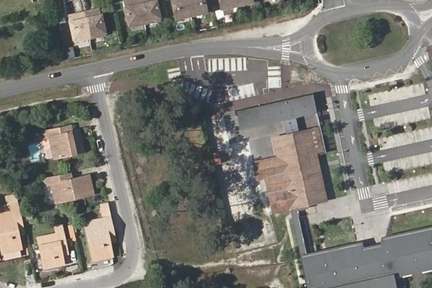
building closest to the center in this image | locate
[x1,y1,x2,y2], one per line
[236,94,328,213]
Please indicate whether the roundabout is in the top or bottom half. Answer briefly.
top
